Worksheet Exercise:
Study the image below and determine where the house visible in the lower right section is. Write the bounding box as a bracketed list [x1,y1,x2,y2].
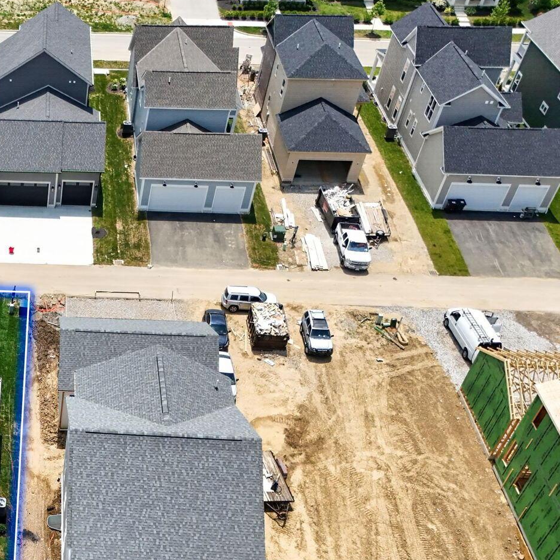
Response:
[458,352,560,560]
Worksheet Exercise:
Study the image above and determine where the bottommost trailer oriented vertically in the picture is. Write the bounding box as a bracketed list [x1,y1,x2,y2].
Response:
[262,450,297,519]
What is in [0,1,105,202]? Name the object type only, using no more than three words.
house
